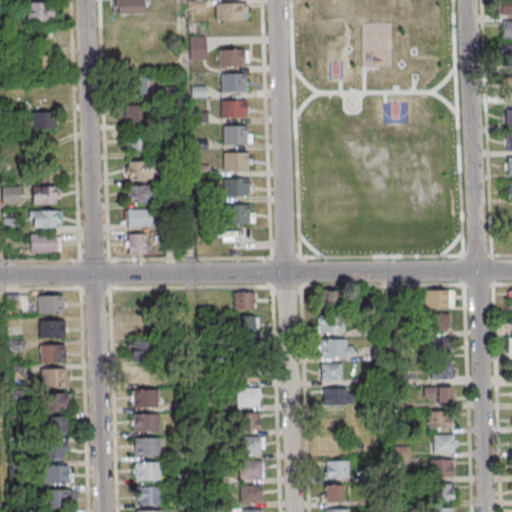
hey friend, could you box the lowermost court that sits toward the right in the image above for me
[384,102,408,124]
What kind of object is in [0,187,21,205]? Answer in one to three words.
building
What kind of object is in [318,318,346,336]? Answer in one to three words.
house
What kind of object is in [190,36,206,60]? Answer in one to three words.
building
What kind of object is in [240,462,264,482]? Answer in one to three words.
house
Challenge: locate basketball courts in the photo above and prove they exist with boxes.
[329,60,343,79]
[384,102,408,124]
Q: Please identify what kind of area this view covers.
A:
residential area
